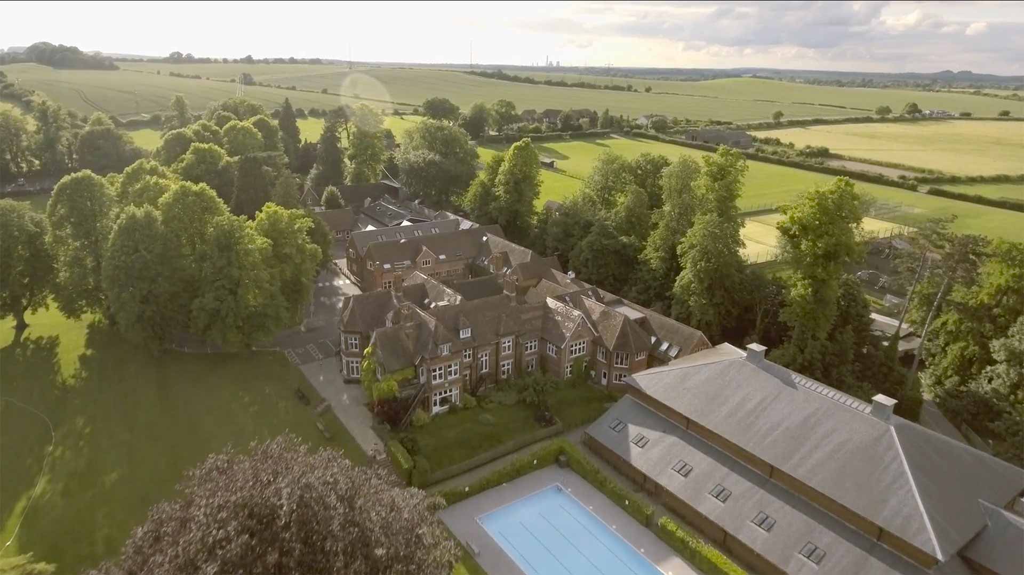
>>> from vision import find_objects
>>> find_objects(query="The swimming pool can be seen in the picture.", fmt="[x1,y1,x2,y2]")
[471,477,668,575]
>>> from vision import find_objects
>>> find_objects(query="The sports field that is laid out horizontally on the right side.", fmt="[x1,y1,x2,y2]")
[473,135,1024,251]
